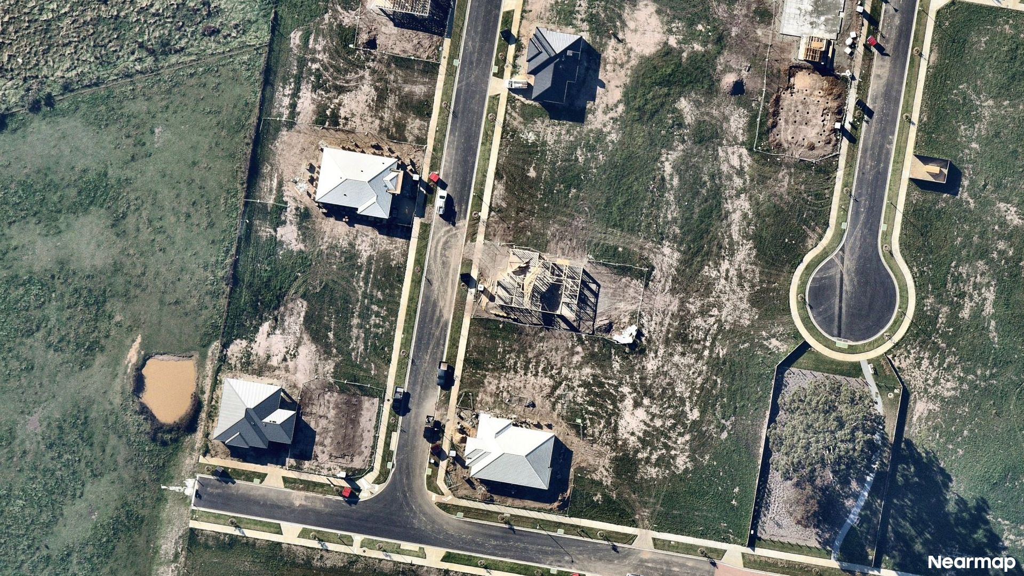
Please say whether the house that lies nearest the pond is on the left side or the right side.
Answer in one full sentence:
The house that lies nearest the pond is on the left side of the image.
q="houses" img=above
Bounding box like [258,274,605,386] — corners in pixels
[214,378,296,449]
[369,0,431,16]
[526,27,582,104]
[315,147,403,218]
[464,412,555,490]
[495,249,583,318]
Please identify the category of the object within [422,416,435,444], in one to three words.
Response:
vehicle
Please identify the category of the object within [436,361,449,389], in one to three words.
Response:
vehicle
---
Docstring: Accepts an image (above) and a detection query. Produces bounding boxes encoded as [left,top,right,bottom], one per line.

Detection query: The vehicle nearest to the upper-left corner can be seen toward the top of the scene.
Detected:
[434,189,447,216]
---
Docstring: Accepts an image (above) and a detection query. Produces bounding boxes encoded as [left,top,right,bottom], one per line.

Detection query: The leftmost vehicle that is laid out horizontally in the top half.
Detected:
[504,78,529,90]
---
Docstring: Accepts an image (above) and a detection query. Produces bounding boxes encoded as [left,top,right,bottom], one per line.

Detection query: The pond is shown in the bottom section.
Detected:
[140,355,198,424]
